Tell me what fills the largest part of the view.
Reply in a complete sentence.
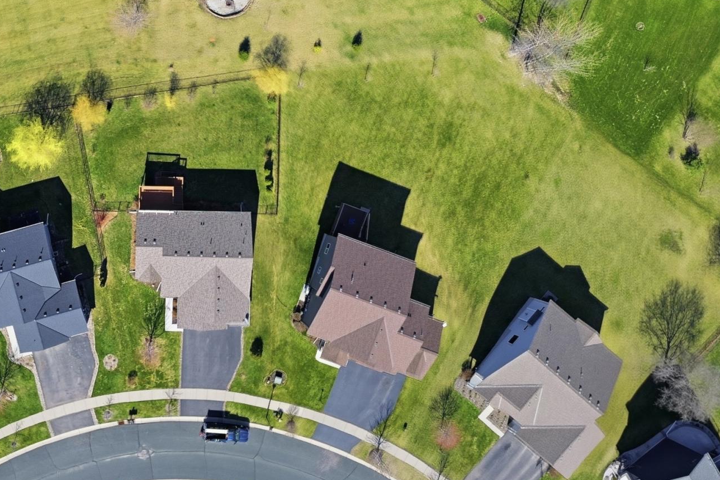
The scene is dominated by grass.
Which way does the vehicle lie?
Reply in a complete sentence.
The vehicle has been laid out horizontally relative to the frame.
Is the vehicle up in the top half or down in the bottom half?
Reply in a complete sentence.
The bottom half of the photo is where the vehicle is.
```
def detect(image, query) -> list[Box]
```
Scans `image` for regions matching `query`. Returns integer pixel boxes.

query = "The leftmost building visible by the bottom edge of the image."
[463,294,622,479]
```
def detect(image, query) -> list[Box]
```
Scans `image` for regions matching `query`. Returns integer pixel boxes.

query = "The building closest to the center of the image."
[292,204,444,381]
